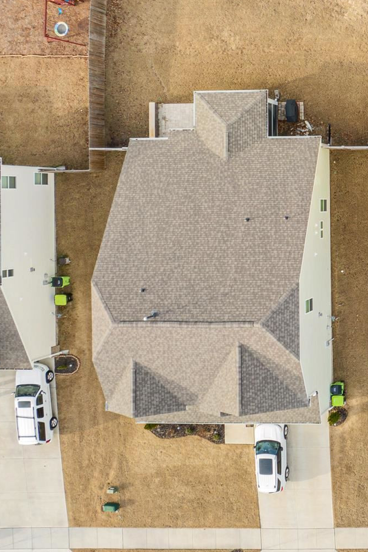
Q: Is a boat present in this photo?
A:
No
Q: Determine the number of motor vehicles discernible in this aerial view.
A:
2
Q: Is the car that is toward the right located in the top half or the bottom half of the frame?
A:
bottom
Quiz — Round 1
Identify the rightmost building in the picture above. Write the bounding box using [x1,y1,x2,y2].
[90,89,341,424]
